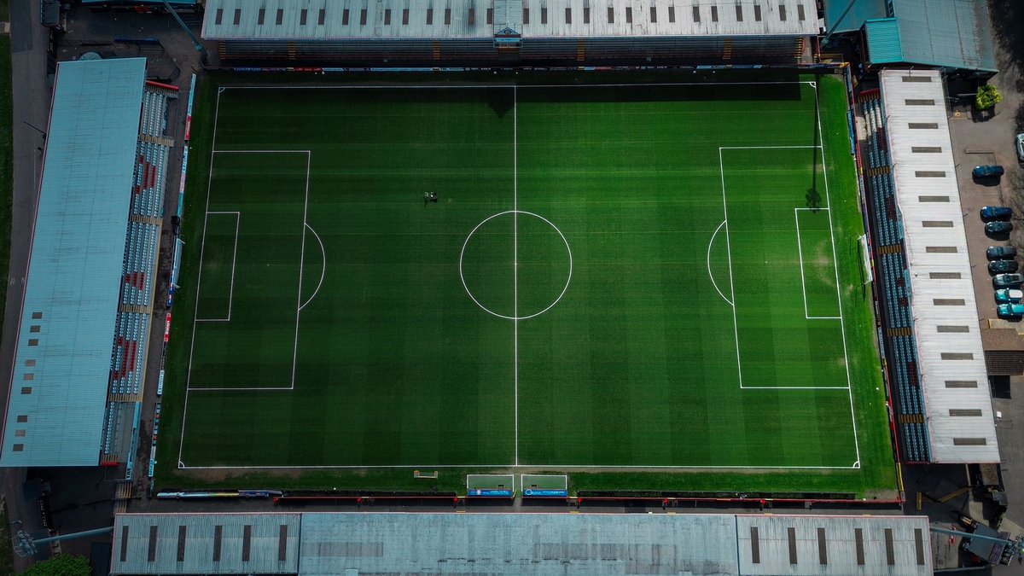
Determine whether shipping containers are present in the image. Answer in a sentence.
No, there isn't any shipping container down there.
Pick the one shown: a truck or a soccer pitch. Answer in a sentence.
I can see a soccer pitch in this picture.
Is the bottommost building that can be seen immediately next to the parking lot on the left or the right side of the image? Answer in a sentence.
The bottommost building that can be seen immediately next to the parking lot is on the right side of the image.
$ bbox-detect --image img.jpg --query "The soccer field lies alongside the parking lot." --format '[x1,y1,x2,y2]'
[154,66,899,499]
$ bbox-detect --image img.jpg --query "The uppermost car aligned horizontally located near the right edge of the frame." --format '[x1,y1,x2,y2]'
[970,166,1005,181]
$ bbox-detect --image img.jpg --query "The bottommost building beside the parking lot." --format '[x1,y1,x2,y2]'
[980,326,1024,376]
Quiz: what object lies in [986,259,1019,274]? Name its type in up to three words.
car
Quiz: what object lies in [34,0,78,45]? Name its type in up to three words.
shed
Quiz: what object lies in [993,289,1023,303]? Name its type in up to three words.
car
